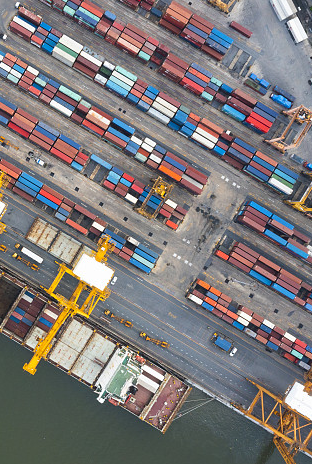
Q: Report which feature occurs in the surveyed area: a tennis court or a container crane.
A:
container crane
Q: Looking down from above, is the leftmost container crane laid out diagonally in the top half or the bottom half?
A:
bottom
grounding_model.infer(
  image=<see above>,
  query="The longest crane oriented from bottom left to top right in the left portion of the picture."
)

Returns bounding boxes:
[20,236,118,380]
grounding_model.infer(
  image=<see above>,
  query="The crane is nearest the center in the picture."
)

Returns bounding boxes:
[133,179,178,221]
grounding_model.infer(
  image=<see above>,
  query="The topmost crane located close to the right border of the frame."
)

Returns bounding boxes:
[263,105,312,155]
